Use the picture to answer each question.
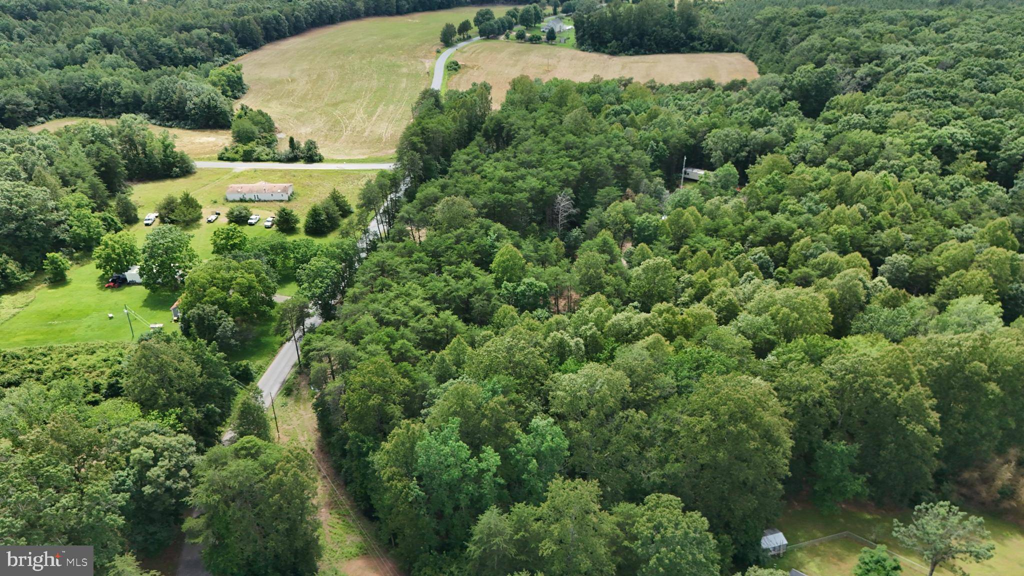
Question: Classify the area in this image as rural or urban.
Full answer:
It looks rural.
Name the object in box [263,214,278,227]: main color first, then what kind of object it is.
white vehicle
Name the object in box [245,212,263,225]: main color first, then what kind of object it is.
white vehicle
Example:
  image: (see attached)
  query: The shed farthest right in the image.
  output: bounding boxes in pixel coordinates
[757,526,792,554]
